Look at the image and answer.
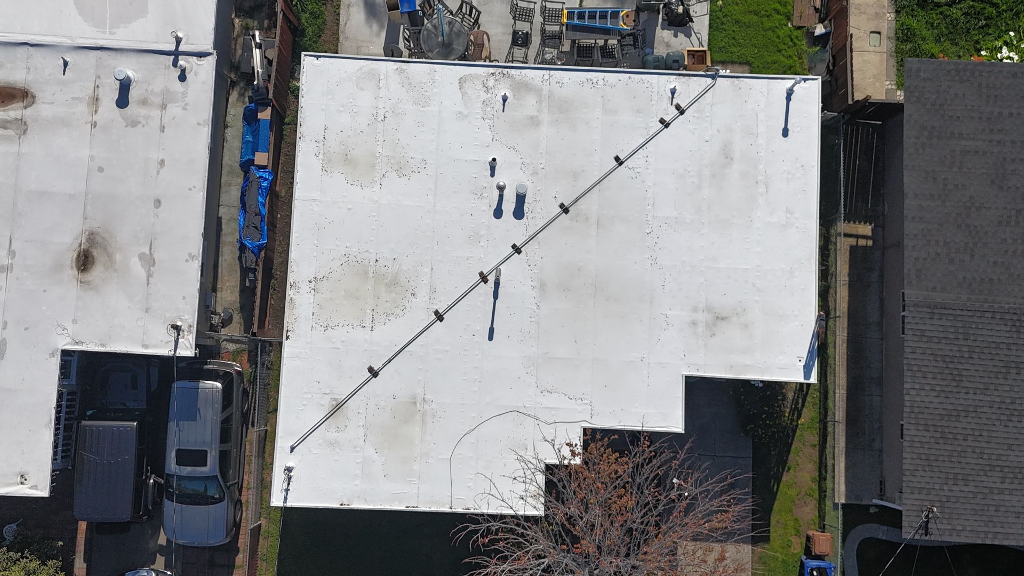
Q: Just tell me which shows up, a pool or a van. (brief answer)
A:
van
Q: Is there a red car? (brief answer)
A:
No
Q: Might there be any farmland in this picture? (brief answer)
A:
No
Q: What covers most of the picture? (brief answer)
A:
buildings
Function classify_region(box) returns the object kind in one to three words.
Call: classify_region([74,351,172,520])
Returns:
van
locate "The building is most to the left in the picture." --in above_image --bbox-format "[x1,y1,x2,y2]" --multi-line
[0,0,237,497]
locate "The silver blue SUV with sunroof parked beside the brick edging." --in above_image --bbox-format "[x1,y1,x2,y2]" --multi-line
[149,354,251,550]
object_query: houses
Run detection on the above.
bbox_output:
[270,51,821,516]
[881,59,1024,546]
[0,0,237,497]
